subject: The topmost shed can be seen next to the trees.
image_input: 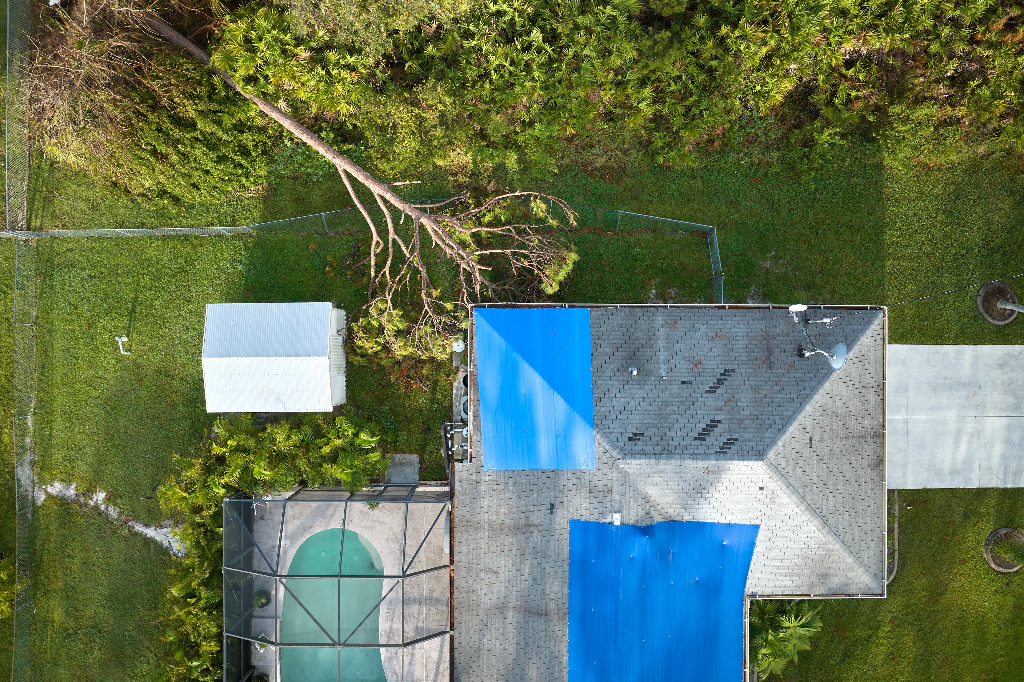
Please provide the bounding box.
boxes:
[201,303,346,412]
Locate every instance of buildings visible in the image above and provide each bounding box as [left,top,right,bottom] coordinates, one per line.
[449,305,888,682]
[201,303,346,412]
